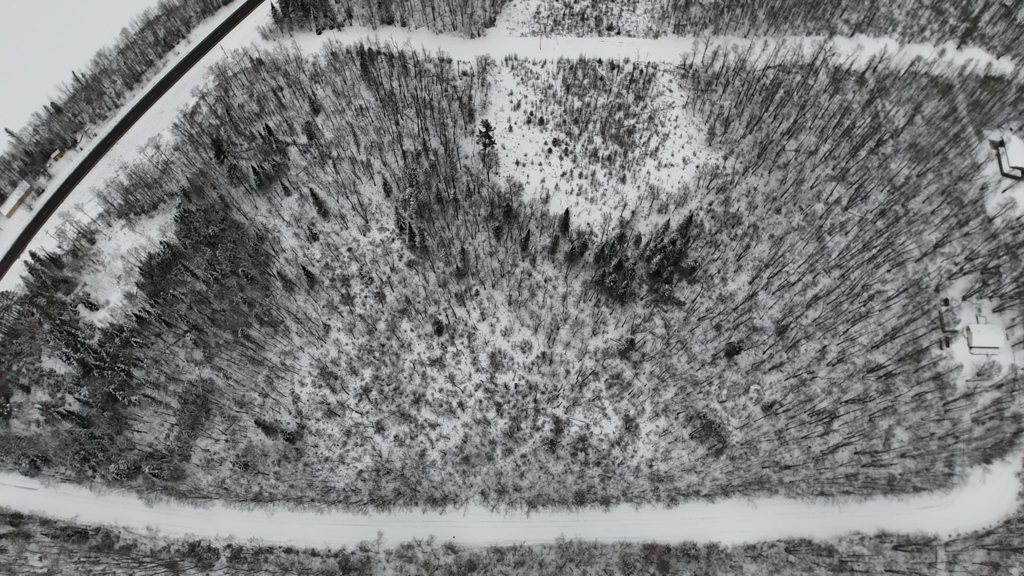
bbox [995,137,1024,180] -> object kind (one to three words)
house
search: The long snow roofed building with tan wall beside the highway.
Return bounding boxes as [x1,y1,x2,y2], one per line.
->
[0,178,33,227]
